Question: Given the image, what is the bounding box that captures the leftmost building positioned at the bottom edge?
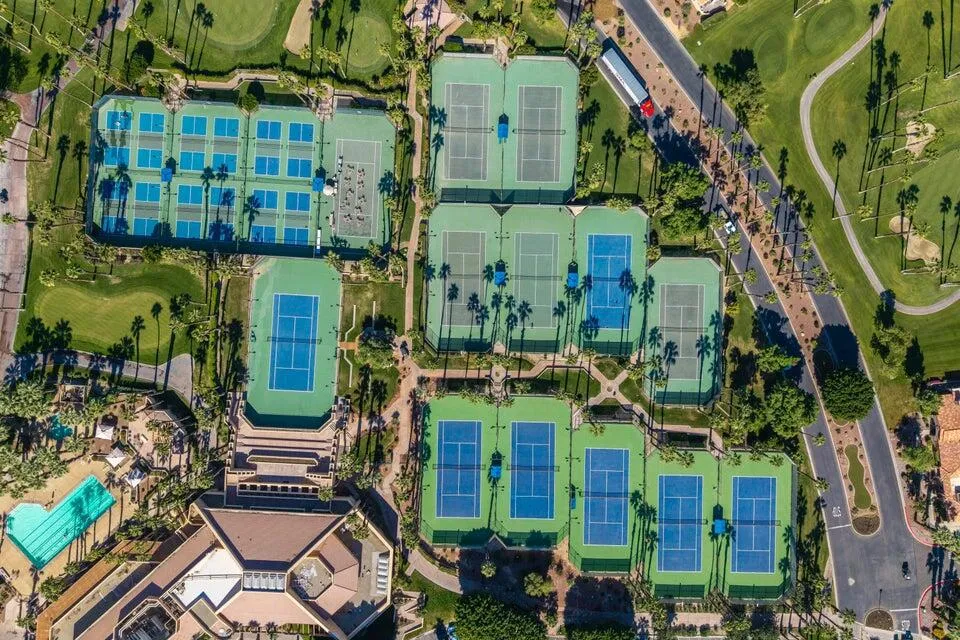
[37,490,397,640]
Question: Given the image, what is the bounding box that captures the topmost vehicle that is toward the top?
[602,49,658,125]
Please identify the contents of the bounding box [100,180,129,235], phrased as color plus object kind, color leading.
blue sports court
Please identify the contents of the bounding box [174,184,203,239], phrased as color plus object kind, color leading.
blue sports court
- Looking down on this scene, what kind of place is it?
sports ground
